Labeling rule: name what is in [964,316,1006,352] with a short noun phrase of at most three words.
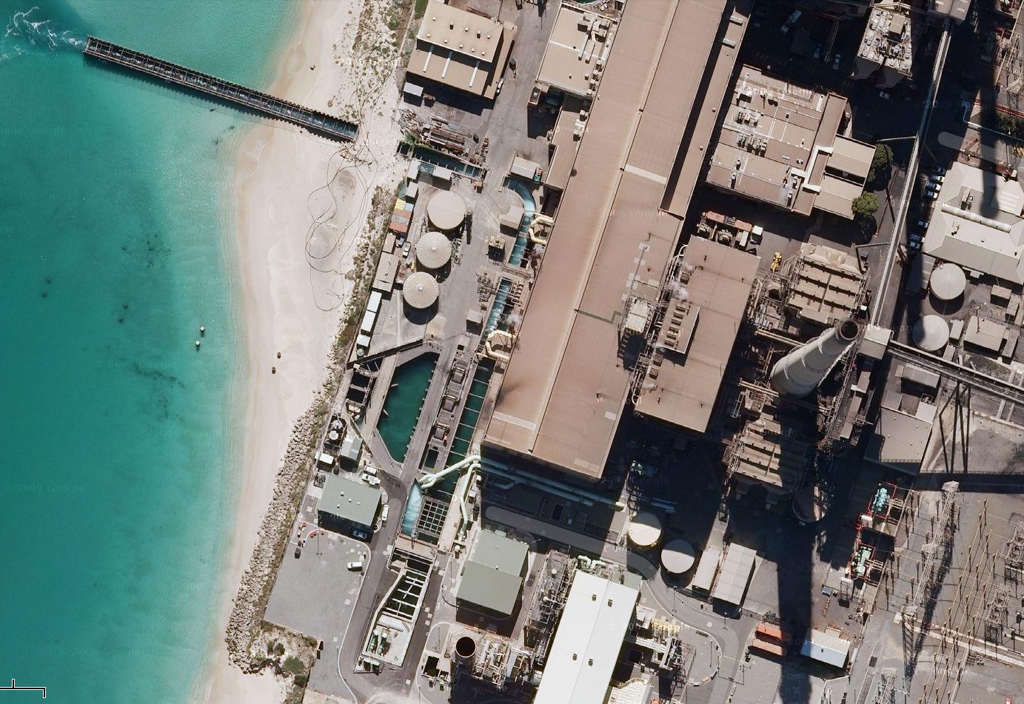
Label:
building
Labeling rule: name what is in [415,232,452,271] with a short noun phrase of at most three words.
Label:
storage tank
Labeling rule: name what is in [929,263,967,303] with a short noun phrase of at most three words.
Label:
storage tank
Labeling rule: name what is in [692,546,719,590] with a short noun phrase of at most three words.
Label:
shed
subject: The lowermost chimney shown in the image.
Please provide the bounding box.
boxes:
[454,636,477,660]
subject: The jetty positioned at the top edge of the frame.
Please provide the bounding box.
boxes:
[82,35,360,141]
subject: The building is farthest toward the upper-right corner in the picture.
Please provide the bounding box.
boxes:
[917,0,972,44]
